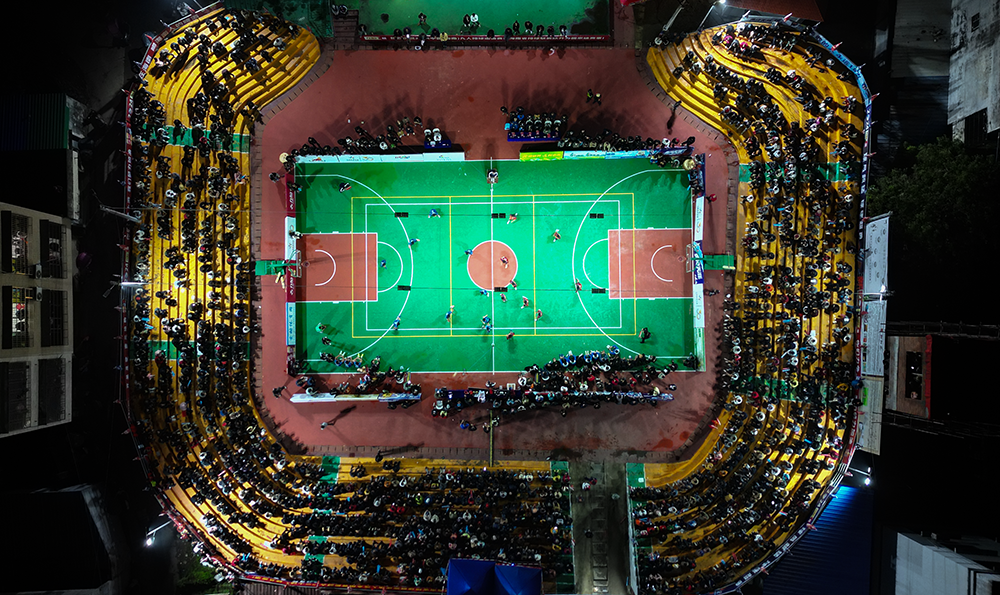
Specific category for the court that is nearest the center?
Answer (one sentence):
The court that is nearest the center in the image is a basketball court.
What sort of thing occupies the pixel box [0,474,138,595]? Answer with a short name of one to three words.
building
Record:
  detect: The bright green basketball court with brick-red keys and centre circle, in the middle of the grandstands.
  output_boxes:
[294,157,696,374]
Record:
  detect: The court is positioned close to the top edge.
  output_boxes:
[359,0,612,33]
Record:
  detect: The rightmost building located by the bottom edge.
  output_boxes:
[896,532,1000,595]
